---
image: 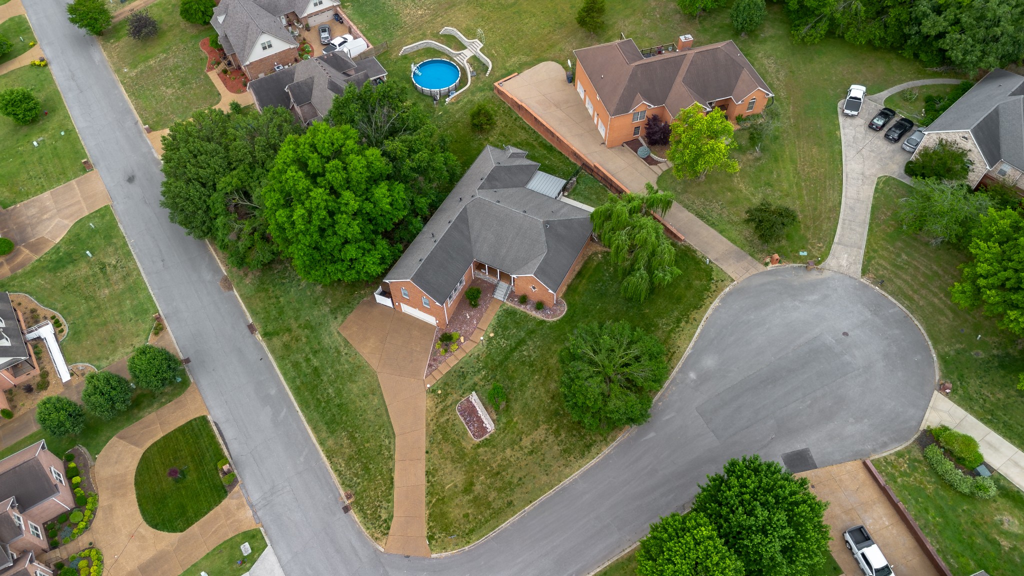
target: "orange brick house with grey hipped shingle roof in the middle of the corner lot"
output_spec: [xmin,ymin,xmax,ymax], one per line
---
[383,145,597,327]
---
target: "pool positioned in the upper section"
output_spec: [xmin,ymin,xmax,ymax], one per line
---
[411,59,462,96]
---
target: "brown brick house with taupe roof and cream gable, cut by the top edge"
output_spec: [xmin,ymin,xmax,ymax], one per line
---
[201,0,341,81]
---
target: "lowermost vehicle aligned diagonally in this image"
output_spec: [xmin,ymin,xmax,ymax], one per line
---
[843,522,896,576]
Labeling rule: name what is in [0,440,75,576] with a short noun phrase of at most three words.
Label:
house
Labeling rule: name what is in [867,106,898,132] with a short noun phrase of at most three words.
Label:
car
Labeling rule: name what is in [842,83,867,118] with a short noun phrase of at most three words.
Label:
truck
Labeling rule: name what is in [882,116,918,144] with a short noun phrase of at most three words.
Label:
car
